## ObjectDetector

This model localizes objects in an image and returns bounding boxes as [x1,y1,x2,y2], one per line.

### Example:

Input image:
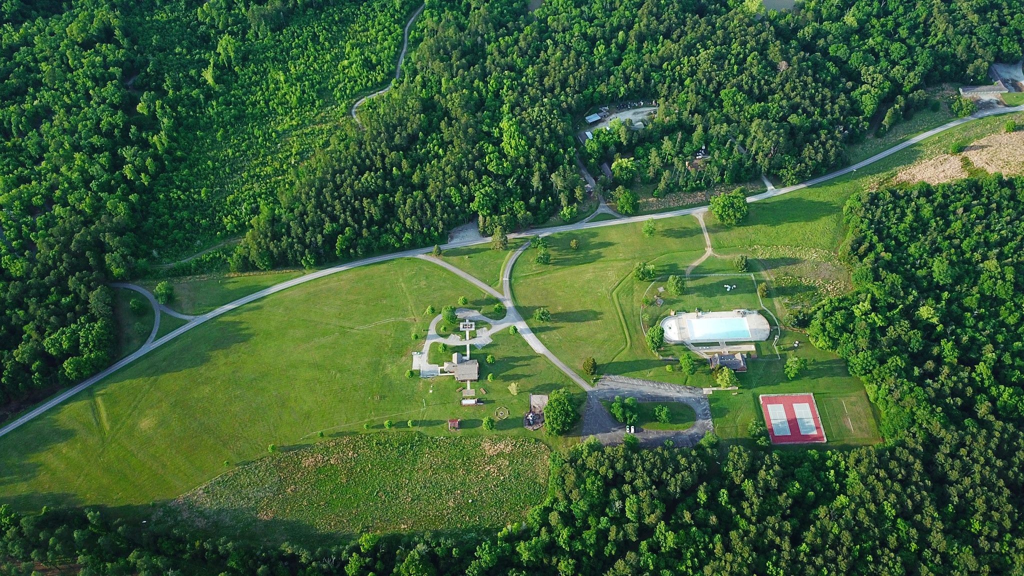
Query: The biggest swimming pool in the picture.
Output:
[660,309,770,344]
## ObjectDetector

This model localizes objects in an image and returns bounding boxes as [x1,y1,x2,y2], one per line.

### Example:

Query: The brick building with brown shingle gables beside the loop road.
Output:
[448,351,479,382]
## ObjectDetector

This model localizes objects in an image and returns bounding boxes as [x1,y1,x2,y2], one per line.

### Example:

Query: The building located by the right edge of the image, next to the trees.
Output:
[960,64,1011,94]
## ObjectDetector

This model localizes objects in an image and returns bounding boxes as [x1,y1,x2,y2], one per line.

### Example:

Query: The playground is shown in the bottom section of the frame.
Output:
[524,394,549,431]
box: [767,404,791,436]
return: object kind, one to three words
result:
tennis court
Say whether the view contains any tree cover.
Yes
